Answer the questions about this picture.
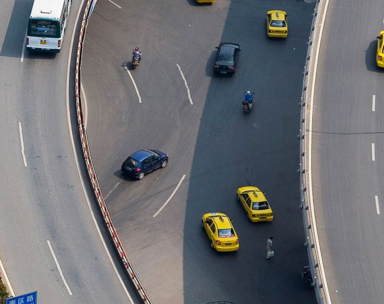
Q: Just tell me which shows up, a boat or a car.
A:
car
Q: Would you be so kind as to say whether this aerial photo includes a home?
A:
No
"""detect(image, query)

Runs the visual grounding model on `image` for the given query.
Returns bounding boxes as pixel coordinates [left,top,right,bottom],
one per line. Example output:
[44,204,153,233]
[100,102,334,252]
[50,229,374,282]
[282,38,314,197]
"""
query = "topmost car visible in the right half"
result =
[263,3,290,33]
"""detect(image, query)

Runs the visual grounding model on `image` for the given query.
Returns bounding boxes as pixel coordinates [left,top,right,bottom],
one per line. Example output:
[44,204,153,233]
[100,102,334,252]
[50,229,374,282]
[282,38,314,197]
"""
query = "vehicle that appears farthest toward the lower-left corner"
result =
[118,146,170,179]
